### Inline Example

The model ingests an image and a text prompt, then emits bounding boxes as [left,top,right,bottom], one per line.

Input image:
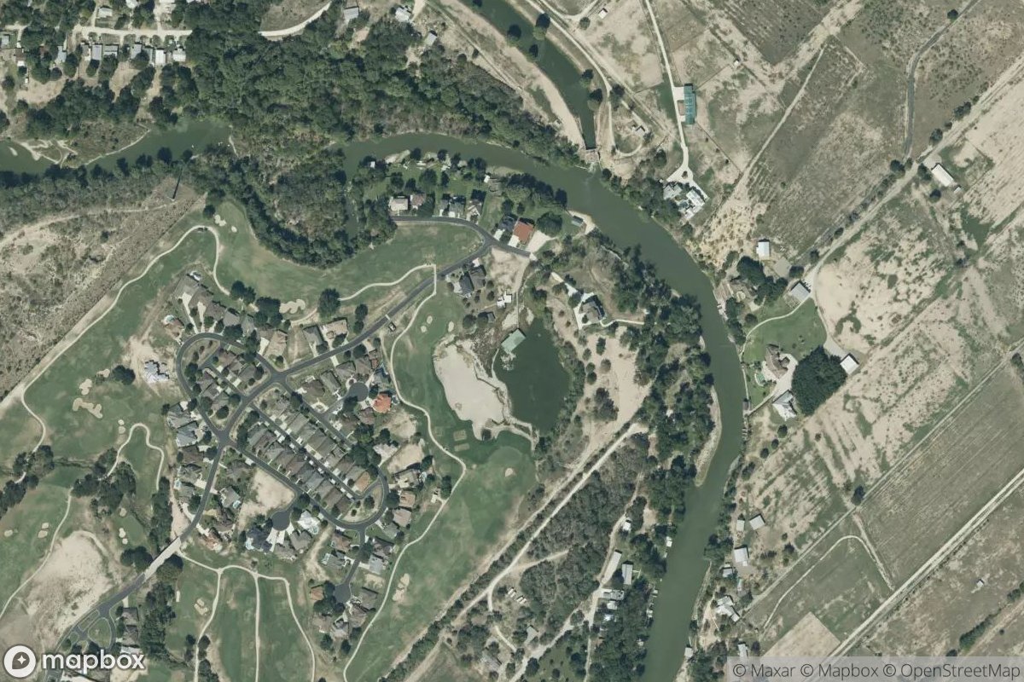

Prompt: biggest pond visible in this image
[494,318,569,435]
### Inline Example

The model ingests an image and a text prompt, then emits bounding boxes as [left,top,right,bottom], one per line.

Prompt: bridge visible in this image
[139,538,184,580]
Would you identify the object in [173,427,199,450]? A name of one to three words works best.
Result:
house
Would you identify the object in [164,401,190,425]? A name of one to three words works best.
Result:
house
